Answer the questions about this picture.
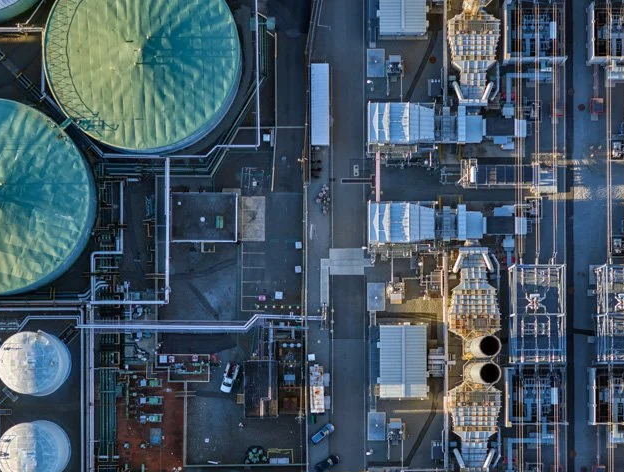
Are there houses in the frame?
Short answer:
Yes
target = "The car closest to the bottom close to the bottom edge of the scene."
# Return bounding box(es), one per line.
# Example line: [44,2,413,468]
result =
[313,454,340,472]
